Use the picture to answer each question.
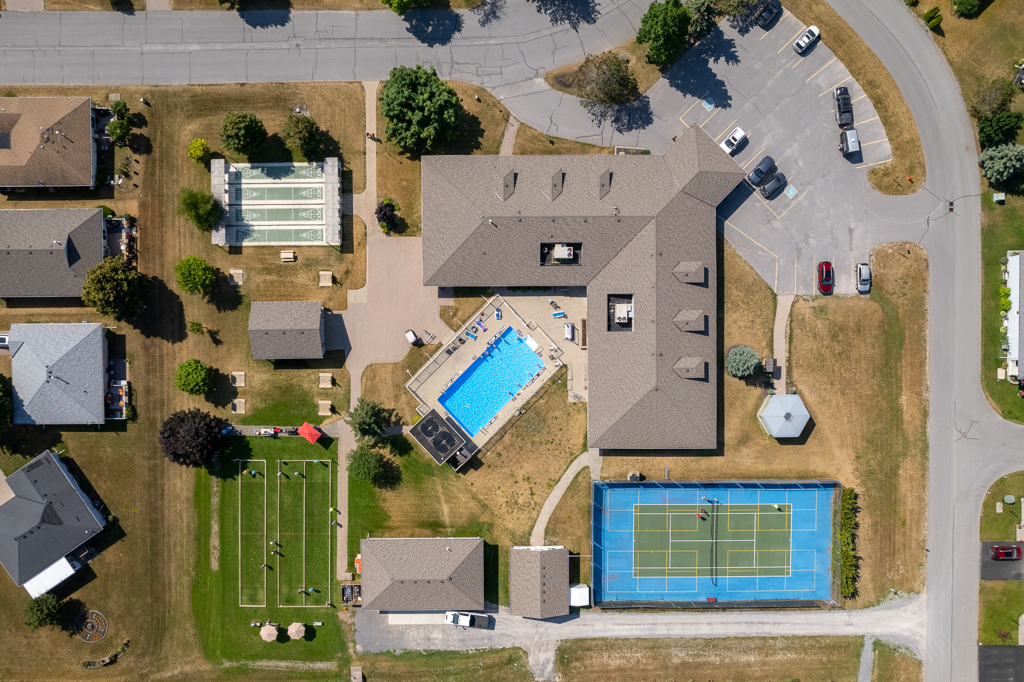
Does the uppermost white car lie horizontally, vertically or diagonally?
diagonally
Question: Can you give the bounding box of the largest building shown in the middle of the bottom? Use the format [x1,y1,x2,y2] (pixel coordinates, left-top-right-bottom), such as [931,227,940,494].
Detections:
[360,534,485,611]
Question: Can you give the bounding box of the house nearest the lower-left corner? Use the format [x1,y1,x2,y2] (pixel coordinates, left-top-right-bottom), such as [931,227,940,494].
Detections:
[0,449,107,595]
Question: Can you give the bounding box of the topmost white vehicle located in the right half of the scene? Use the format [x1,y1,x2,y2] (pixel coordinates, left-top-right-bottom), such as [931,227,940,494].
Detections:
[792,24,820,55]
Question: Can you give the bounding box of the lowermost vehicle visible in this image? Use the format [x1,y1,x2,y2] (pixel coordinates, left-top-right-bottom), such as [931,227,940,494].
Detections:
[444,611,489,629]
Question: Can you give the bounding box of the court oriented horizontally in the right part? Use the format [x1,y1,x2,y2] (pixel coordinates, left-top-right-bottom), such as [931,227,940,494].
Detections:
[593,480,835,601]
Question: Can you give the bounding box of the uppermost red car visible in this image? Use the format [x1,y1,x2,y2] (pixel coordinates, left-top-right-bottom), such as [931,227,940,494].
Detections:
[816,263,834,294]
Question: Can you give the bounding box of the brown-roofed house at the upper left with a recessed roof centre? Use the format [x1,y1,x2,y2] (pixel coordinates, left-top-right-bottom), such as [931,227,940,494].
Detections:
[0,96,101,187]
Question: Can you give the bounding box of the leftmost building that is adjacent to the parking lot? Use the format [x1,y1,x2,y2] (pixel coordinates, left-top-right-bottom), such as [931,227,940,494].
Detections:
[421,121,747,450]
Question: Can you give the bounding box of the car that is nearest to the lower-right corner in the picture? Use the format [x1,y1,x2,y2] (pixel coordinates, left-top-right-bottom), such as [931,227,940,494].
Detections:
[988,545,1021,561]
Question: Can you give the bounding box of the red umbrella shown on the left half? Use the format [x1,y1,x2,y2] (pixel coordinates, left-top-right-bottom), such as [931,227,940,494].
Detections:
[297,421,322,444]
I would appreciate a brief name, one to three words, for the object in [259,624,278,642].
umbrella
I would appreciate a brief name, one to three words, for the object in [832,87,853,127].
truck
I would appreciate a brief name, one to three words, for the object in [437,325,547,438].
swimming pool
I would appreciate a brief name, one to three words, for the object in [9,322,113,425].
house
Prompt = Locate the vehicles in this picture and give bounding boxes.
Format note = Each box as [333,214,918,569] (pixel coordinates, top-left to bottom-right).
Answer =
[747,155,776,186]
[754,0,783,29]
[444,611,489,629]
[0,334,10,346]
[855,263,872,294]
[988,545,1021,561]
[760,172,787,200]
[792,24,820,55]
[405,328,419,346]
[719,127,746,154]
[832,87,853,127]
[816,263,834,294]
